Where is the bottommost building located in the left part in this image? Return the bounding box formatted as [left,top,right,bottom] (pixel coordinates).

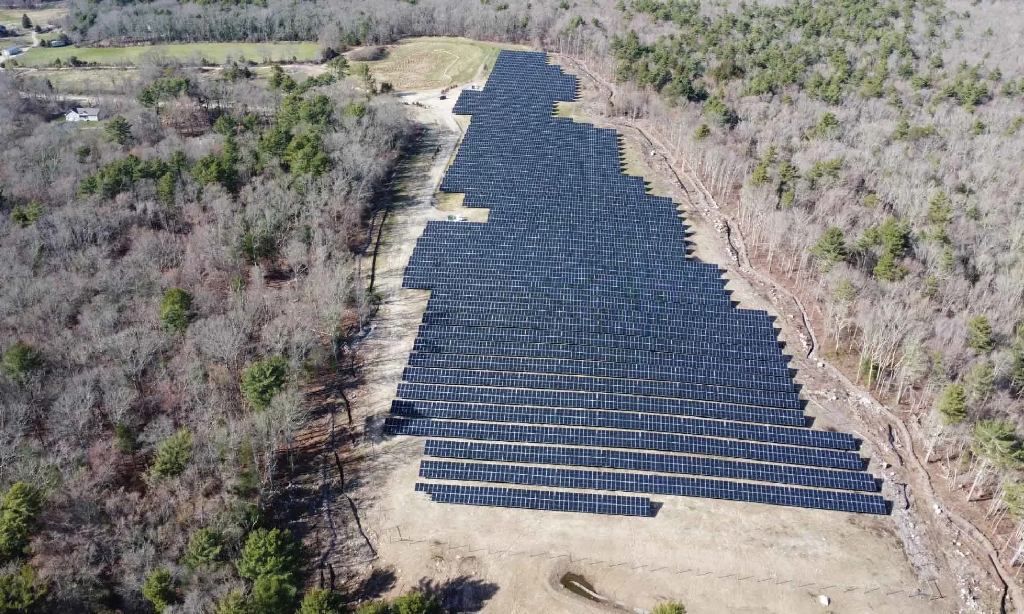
[62,106,103,123]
